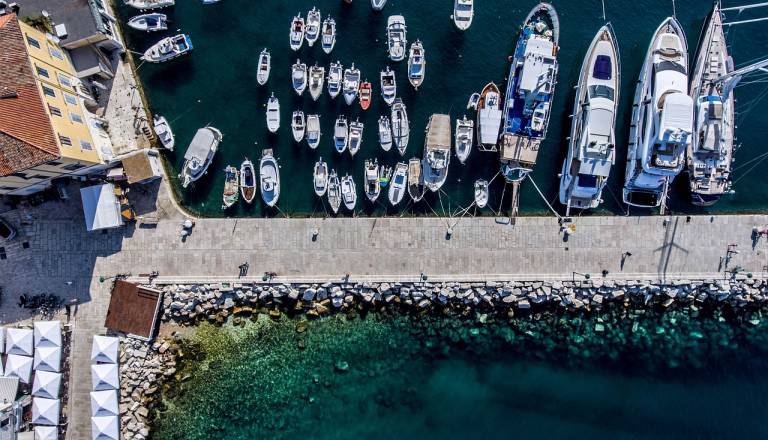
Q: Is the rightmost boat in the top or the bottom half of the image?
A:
top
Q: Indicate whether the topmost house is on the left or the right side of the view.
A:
left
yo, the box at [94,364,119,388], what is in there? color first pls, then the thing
white umbrella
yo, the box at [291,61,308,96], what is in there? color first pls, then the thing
white boat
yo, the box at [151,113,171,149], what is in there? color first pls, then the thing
white boat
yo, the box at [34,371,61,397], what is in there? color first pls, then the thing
white umbrella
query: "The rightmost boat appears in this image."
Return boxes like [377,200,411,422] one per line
[684,0,768,209]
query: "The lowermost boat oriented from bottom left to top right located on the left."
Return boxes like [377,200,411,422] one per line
[178,125,226,188]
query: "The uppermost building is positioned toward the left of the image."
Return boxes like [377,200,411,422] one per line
[0,0,122,82]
